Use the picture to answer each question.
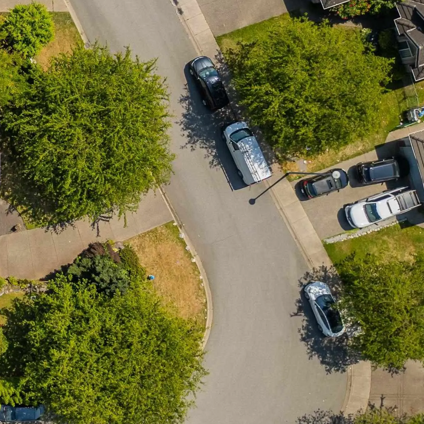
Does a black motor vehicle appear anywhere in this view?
Yes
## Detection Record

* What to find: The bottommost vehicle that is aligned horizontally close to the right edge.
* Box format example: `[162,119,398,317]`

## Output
[349,189,424,223]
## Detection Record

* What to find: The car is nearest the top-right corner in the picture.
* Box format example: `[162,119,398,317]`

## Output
[352,154,407,184]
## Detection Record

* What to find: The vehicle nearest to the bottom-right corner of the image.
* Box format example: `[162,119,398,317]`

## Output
[303,282,345,338]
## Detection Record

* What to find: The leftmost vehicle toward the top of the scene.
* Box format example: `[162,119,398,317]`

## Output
[189,52,232,113]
